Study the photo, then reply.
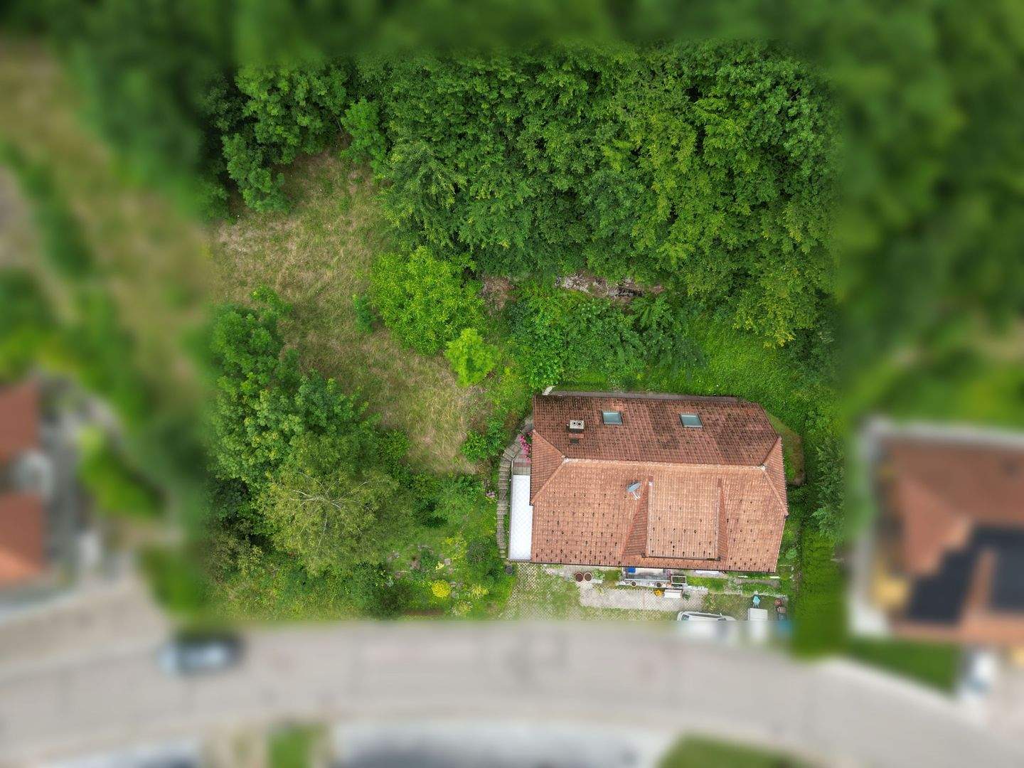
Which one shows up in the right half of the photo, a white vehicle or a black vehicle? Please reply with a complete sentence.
What appears in the right half of the photo is a white vehicle.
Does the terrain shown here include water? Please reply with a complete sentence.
No, the picture contains no water.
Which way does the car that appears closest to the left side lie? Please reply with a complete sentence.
Seen from above, the car that appears closest to the left side lies from side to side.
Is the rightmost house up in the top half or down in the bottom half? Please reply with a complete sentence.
It is in the bottom half that the rightmost house appears.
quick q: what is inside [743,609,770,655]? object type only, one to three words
trailer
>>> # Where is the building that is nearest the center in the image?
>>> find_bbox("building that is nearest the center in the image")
[527,393,790,574]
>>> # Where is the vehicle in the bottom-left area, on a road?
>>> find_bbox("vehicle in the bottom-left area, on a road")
[168,636,243,675]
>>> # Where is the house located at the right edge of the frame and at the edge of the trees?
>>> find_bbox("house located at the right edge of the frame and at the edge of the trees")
[870,435,1024,651]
